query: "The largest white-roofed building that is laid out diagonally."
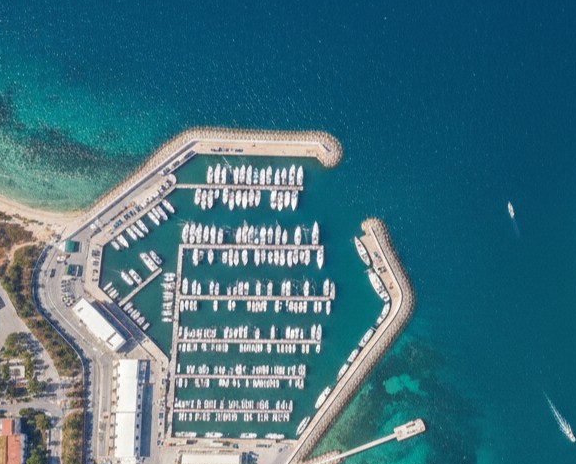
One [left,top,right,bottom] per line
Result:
[73,298,124,346]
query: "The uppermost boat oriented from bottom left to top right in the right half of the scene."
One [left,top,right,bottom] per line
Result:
[375,304,390,325]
